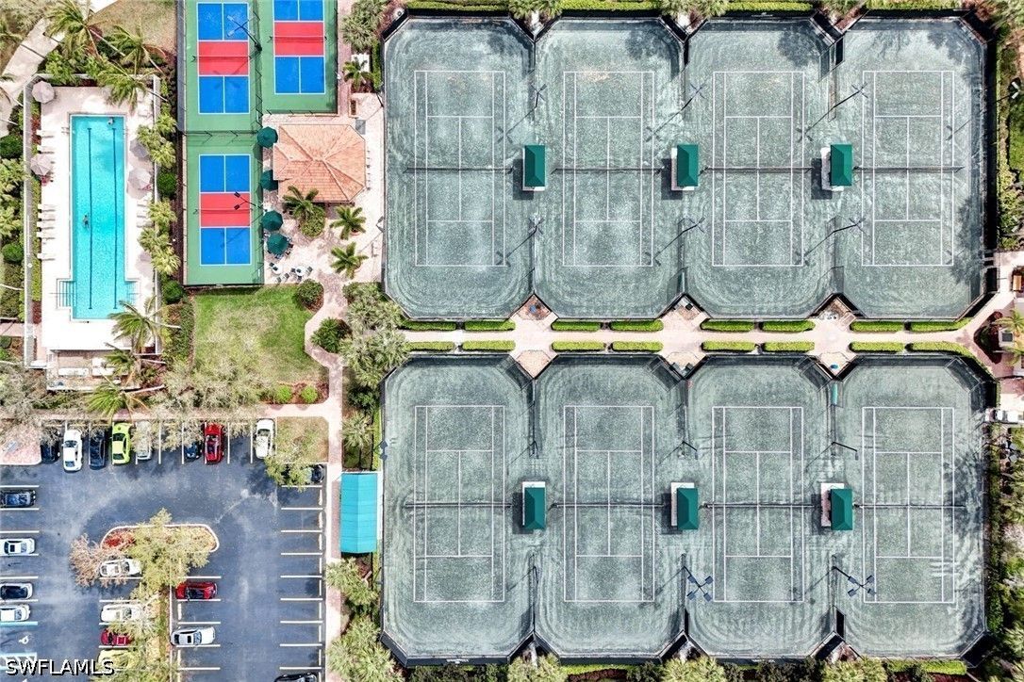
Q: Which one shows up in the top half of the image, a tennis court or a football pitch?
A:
tennis court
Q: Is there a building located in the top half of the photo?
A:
Yes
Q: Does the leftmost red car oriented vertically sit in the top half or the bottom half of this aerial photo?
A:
bottom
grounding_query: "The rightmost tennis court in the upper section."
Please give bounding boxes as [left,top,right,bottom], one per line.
[834,18,984,318]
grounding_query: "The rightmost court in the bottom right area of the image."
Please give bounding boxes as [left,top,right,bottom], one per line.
[834,354,984,656]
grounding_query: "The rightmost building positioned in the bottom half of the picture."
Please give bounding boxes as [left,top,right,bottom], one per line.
[822,484,851,530]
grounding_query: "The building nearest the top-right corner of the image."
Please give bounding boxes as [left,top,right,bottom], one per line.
[822,143,851,190]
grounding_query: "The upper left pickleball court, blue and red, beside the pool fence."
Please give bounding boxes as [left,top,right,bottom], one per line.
[185,0,262,131]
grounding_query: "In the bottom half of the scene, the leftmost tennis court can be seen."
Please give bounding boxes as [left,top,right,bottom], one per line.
[384,354,534,656]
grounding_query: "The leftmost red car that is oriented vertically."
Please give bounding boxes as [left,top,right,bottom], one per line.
[204,423,224,464]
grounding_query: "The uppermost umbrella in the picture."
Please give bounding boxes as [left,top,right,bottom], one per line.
[35,82,57,105]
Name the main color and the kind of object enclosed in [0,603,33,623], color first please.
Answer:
white car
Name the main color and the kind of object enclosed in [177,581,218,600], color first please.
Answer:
red car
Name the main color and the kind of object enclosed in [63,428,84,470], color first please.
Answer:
white car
